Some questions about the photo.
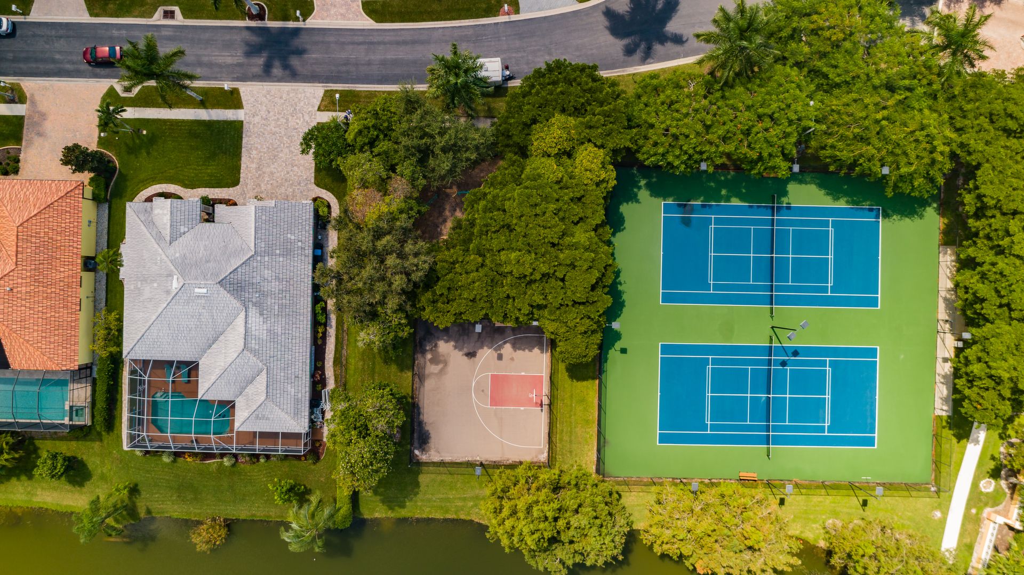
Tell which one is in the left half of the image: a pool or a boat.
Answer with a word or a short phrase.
pool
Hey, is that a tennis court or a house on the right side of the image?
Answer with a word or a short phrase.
tennis court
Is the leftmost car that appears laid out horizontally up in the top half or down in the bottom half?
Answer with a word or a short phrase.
top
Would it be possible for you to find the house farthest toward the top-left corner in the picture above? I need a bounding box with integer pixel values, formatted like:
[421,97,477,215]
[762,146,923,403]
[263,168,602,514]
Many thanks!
[0,178,98,369]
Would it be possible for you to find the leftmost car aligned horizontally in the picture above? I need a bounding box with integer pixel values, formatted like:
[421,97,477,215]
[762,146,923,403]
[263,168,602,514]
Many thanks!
[80,42,122,63]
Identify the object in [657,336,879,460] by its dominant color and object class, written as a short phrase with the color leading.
blue tennis court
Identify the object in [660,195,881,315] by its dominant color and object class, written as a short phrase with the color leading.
blue tennis court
